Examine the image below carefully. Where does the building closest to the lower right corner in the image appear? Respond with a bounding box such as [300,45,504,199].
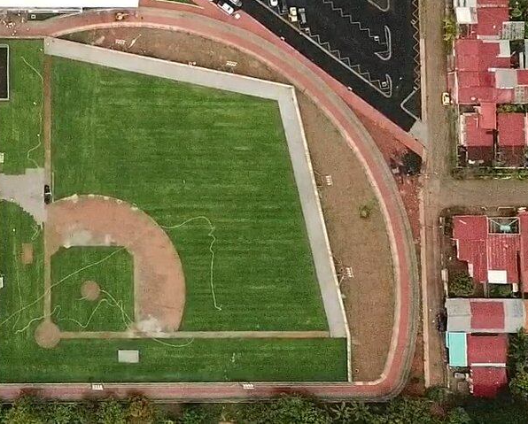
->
[467,365,507,398]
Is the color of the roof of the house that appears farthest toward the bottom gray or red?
red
